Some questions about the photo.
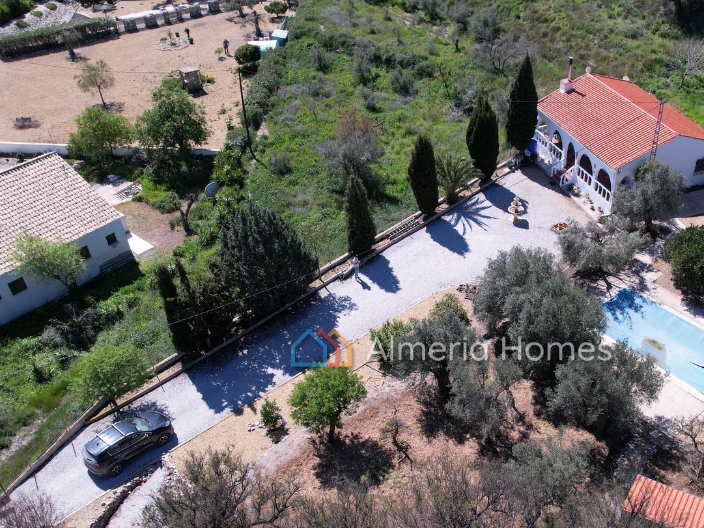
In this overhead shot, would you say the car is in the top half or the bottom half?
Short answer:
bottom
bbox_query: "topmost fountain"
[507,198,525,223]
